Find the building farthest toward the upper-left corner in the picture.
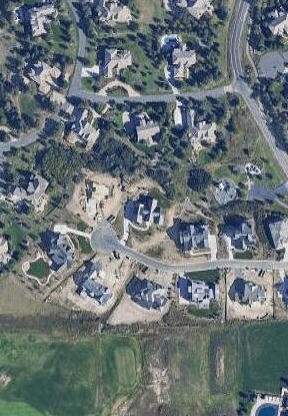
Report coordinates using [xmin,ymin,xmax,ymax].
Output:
[27,4,56,38]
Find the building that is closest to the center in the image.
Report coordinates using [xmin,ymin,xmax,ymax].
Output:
[138,198,167,225]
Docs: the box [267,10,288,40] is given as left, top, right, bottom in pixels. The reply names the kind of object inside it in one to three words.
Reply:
house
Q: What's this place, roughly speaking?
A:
residential area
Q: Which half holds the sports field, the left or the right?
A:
right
